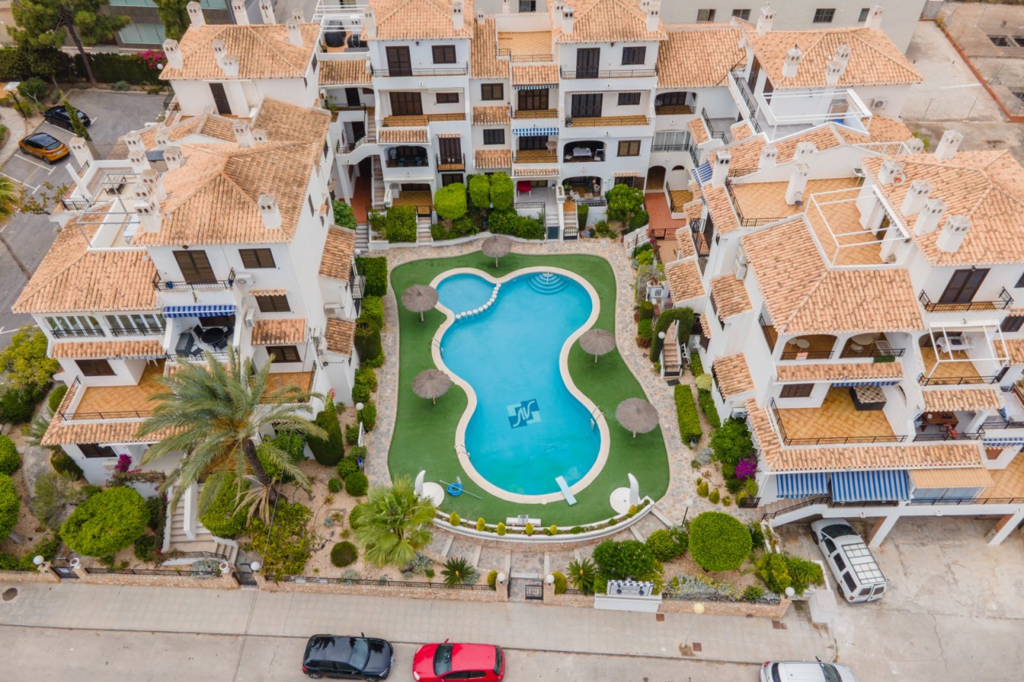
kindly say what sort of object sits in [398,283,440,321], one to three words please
umbrella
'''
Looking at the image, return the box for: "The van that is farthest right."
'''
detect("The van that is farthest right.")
[809,518,885,607]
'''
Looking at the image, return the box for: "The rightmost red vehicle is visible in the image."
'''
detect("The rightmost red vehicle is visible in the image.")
[413,637,506,682]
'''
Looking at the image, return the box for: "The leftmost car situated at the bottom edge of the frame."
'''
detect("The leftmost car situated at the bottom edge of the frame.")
[299,630,396,682]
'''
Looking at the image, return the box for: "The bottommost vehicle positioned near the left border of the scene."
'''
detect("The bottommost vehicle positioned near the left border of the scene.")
[22,137,62,165]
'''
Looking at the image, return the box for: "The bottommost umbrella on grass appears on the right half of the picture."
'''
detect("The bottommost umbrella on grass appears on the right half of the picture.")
[613,395,663,438]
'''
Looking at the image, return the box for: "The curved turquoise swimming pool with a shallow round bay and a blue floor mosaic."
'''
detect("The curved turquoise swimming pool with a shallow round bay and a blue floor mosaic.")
[432,266,609,502]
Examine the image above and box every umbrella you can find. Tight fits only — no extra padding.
[575,322,621,362]
[408,362,454,404]
[398,283,440,321]
[613,395,663,438]
[476,230,516,267]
